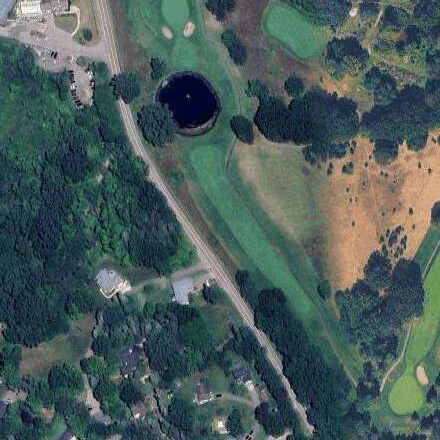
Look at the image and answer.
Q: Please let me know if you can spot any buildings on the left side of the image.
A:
Yes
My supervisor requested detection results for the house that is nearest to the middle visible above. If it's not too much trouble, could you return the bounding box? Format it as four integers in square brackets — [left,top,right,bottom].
[175,278,193,303]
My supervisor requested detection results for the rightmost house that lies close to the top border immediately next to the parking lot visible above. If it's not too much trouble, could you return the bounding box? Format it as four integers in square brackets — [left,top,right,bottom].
[40,0,69,14]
